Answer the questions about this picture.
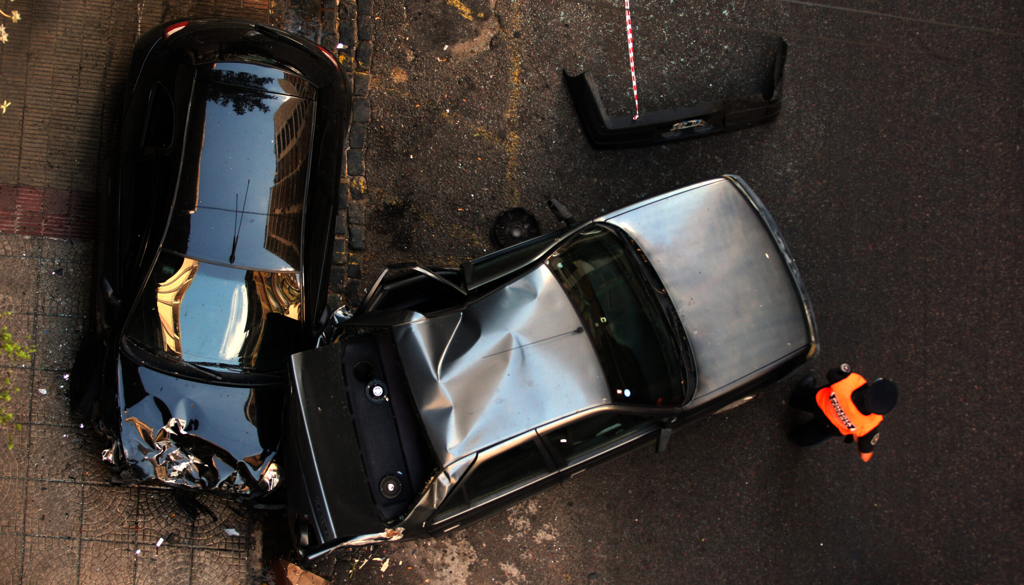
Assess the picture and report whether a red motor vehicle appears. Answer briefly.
No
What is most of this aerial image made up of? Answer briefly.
paved ground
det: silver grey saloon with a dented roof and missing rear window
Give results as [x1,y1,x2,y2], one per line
[283,172,821,564]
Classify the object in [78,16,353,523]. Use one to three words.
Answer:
car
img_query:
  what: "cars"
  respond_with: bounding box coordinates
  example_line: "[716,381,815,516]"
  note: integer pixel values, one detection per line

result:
[78,16,353,523]
[283,172,821,564]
